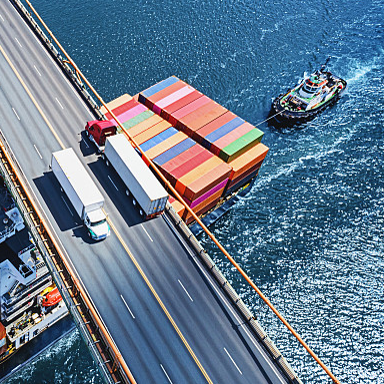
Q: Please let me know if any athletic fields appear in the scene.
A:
No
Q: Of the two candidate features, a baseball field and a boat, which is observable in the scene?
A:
boat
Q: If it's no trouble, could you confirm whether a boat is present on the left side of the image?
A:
Yes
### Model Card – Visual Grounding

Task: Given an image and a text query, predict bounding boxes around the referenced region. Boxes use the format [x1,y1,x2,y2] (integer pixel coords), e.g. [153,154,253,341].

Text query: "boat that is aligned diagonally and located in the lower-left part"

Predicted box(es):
[40,290,63,309]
